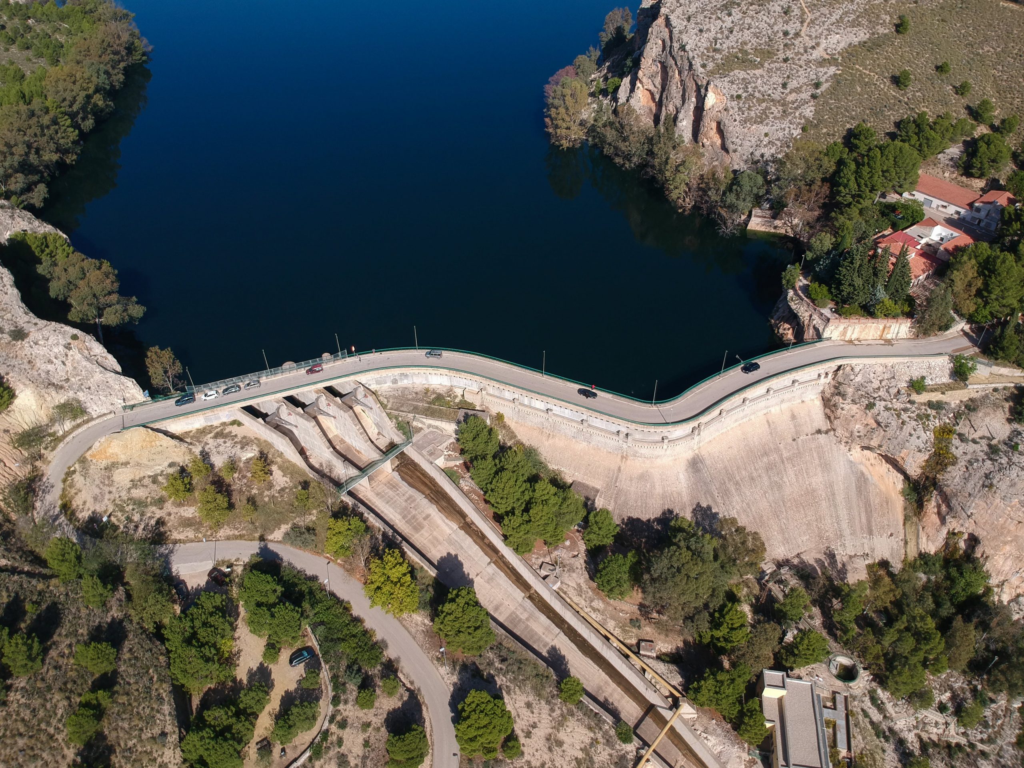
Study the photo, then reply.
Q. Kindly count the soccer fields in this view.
0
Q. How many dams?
1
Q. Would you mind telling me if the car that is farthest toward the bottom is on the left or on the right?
left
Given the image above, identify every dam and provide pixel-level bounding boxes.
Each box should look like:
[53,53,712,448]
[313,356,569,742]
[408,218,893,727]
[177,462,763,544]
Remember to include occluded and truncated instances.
[125,357,937,588]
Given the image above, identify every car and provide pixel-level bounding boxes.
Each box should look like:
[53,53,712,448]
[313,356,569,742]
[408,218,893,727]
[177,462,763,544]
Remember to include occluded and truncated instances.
[288,645,315,665]
[208,567,228,584]
[175,392,195,405]
[244,378,262,389]
[743,360,759,372]
[307,362,324,374]
[426,348,443,358]
[222,382,242,395]
[201,388,219,400]
[175,579,189,599]
[578,386,597,399]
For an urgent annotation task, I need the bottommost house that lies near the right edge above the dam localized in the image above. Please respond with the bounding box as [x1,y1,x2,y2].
[873,216,974,290]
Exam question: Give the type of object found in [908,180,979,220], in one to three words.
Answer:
house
